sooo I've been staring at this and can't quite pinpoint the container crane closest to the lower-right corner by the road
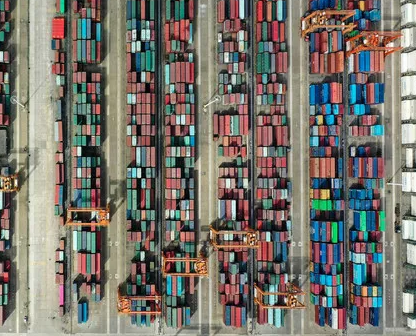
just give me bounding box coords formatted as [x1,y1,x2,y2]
[253,282,305,309]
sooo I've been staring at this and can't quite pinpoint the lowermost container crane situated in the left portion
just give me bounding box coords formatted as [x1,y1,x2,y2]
[117,286,162,315]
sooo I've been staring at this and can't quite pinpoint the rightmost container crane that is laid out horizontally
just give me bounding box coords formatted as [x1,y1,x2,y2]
[346,32,402,58]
